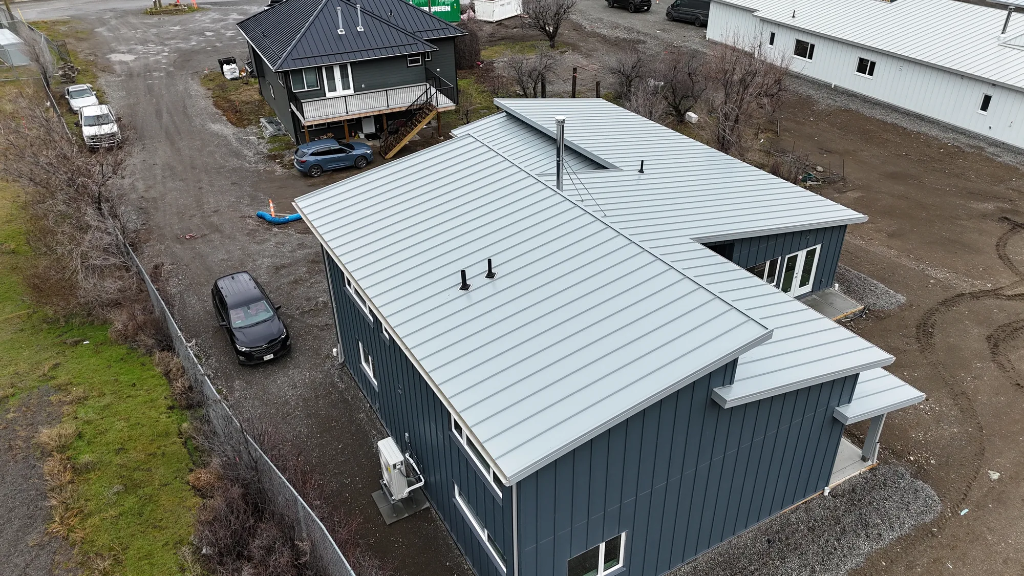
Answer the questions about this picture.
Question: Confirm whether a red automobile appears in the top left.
No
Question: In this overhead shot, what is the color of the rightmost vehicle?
black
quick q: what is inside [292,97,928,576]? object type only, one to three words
house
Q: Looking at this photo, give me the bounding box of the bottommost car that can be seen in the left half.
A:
[210,270,286,360]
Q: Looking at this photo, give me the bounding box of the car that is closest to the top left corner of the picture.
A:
[65,85,100,116]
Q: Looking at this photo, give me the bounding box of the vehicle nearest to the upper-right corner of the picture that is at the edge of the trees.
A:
[659,0,710,24]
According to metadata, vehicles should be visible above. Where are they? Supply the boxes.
[65,85,100,116]
[659,0,710,24]
[74,102,124,150]
[210,270,286,360]
[604,0,650,11]
[288,136,376,177]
